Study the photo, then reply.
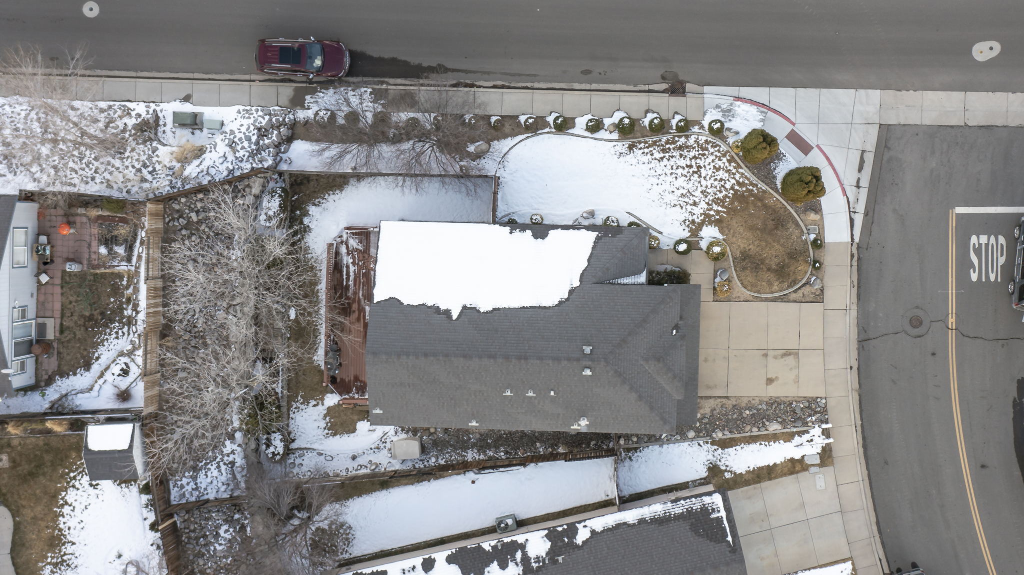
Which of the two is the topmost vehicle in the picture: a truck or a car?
car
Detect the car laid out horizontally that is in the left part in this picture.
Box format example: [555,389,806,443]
[254,34,351,83]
